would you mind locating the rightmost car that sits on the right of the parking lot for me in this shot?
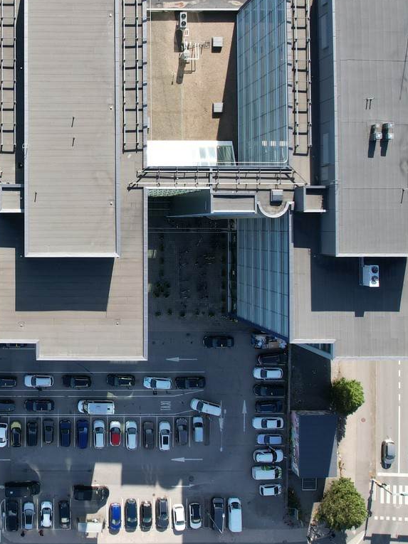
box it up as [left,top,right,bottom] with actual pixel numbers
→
[379,437,396,467]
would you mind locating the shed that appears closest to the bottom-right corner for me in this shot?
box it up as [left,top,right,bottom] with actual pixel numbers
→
[291,410,338,478]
